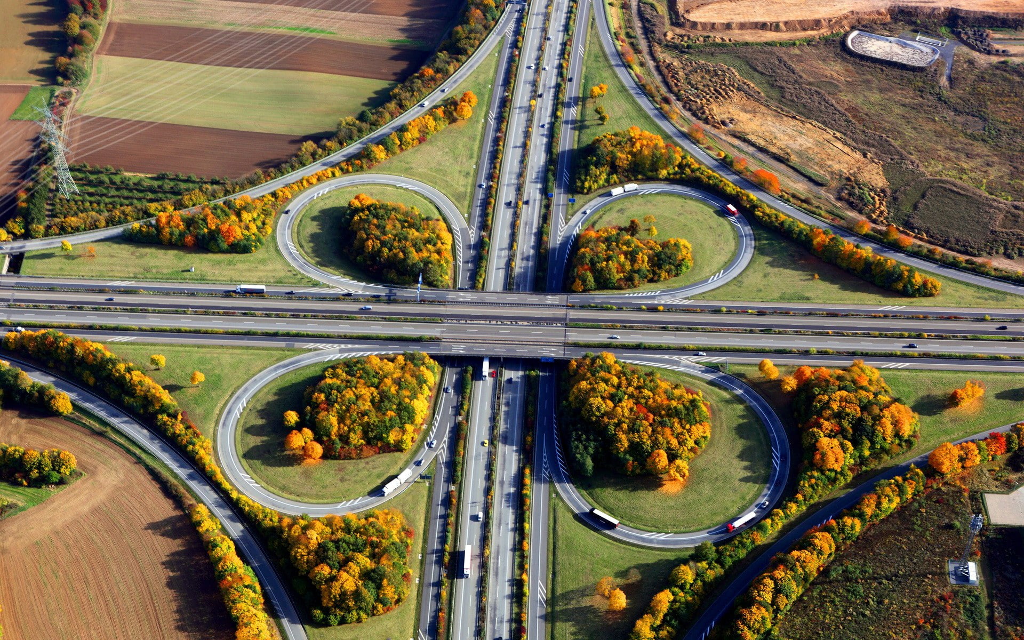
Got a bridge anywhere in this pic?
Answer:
Yes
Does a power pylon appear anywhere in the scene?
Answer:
Yes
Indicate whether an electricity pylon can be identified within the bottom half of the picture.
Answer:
No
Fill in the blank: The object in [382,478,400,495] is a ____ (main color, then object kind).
white vehicle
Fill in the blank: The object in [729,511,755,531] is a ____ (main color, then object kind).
white vehicle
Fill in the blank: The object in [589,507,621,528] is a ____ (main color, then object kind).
white truck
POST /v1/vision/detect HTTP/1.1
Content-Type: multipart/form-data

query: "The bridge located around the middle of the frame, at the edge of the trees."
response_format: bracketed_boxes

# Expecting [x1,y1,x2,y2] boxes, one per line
[437,287,571,364]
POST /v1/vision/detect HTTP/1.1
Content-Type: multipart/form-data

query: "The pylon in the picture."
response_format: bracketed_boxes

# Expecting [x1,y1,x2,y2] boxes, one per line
[36,98,81,196]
